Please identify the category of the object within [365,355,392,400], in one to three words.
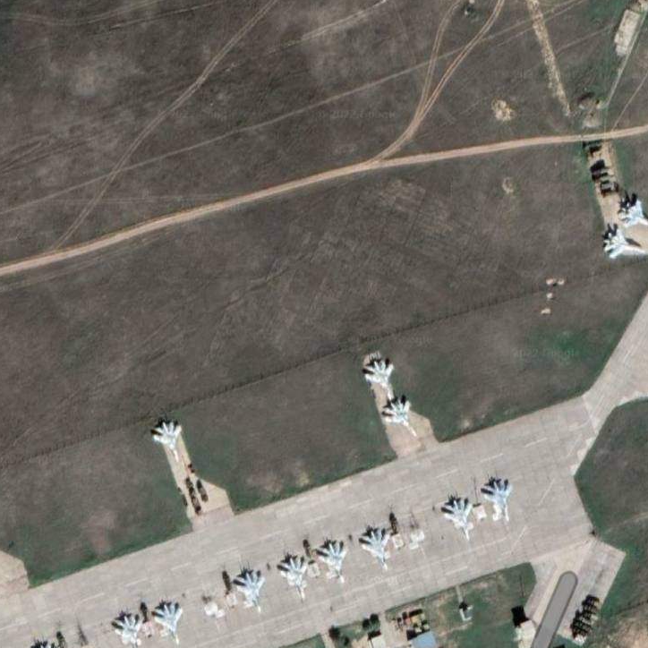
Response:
airplane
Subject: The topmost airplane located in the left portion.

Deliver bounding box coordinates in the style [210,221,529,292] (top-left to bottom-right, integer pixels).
[153,417,181,461]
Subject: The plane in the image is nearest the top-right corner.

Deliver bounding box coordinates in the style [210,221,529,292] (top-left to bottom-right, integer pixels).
[619,199,648,226]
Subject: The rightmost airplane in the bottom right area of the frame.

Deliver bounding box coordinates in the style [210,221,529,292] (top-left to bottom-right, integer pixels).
[485,477,513,520]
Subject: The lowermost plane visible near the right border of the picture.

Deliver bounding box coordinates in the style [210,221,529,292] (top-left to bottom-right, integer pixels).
[608,229,648,257]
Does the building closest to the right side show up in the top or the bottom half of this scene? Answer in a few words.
top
